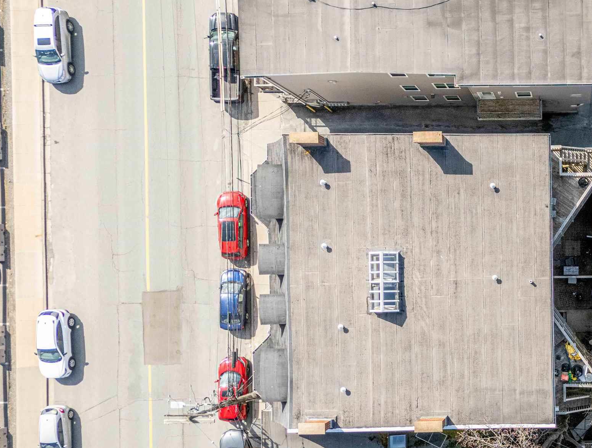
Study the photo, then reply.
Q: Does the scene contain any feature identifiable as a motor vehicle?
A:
Yes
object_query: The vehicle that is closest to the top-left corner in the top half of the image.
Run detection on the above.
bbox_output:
[27,8,73,84]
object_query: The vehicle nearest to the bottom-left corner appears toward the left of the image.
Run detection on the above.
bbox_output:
[31,402,73,448]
